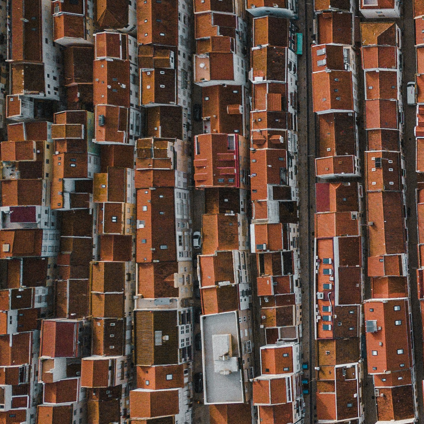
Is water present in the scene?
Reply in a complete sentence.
No, there's no water in this view.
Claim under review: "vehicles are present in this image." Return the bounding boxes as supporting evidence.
[193,231,202,248]
[193,306,202,325]
[407,84,416,104]
[193,103,203,122]
[194,333,202,352]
